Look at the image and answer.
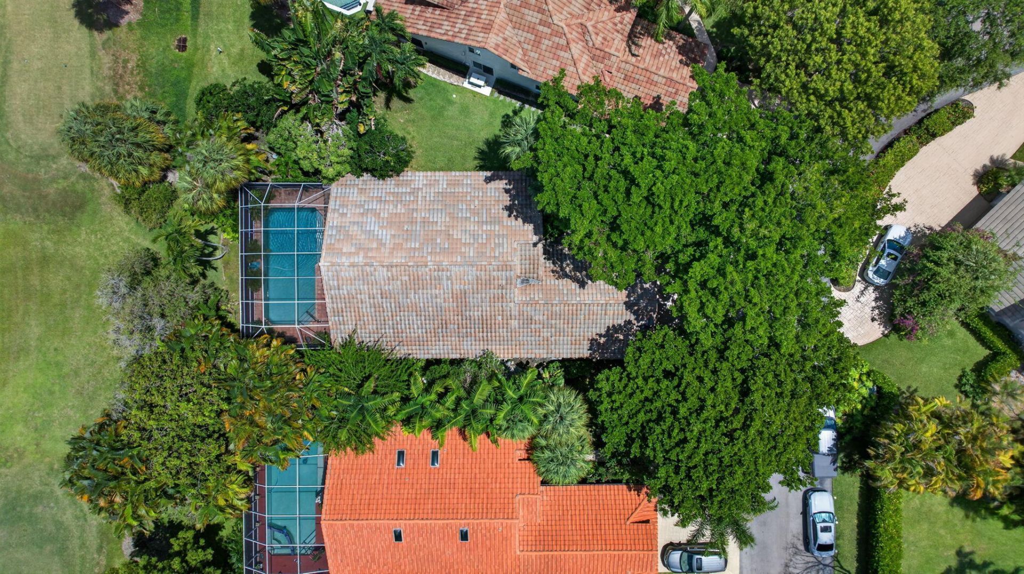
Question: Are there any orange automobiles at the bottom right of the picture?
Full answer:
No, the scene shows no orange automobile at the bottom right of the picture.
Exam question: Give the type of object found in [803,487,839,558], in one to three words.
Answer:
car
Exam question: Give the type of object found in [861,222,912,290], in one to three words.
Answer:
car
